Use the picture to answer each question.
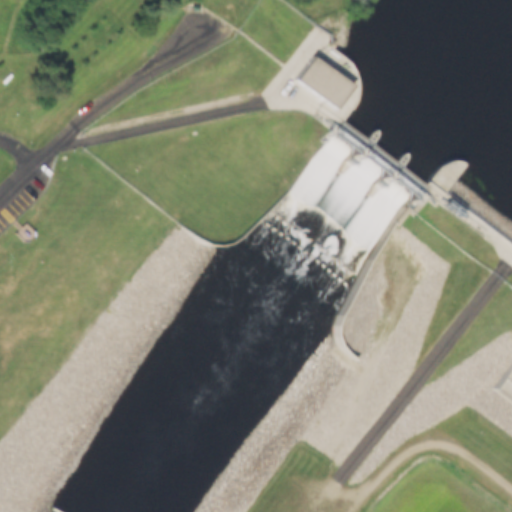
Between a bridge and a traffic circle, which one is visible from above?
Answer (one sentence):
The image shows a bridge.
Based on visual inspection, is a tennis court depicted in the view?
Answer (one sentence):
No, the photo shows no tennis court.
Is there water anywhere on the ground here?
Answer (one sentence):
Yes, some water is visible.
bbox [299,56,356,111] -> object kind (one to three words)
building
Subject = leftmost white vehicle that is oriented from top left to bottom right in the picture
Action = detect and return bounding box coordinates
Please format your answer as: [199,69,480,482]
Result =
[40,164,54,179]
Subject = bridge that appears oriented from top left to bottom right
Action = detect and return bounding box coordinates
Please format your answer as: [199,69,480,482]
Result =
[328,117,442,205]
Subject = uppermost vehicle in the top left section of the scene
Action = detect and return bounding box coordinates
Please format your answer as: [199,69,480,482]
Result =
[2,74,15,86]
